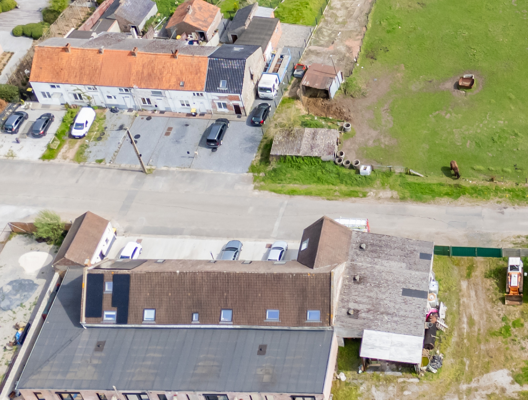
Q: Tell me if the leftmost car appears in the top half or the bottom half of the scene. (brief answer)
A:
top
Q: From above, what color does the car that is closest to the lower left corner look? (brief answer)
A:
white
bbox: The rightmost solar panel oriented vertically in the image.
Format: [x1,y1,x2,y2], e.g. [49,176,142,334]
[112,275,130,324]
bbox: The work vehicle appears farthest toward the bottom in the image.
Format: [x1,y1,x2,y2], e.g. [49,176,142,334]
[504,255,525,305]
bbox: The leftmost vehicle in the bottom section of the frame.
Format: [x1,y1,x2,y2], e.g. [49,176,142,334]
[116,234,146,260]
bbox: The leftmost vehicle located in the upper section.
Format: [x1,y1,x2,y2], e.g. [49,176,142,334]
[0,110,31,134]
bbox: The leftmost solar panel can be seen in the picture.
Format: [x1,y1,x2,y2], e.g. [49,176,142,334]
[85,275,103,318]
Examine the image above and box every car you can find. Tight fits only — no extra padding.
[206,118,231,148]
[71,103,96,137]
[116,234,146,260]
[27,111,57,137]
[249,99,275,127]
[219,233,245,261]
[266,234,291,261]
[0,110,31,134]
